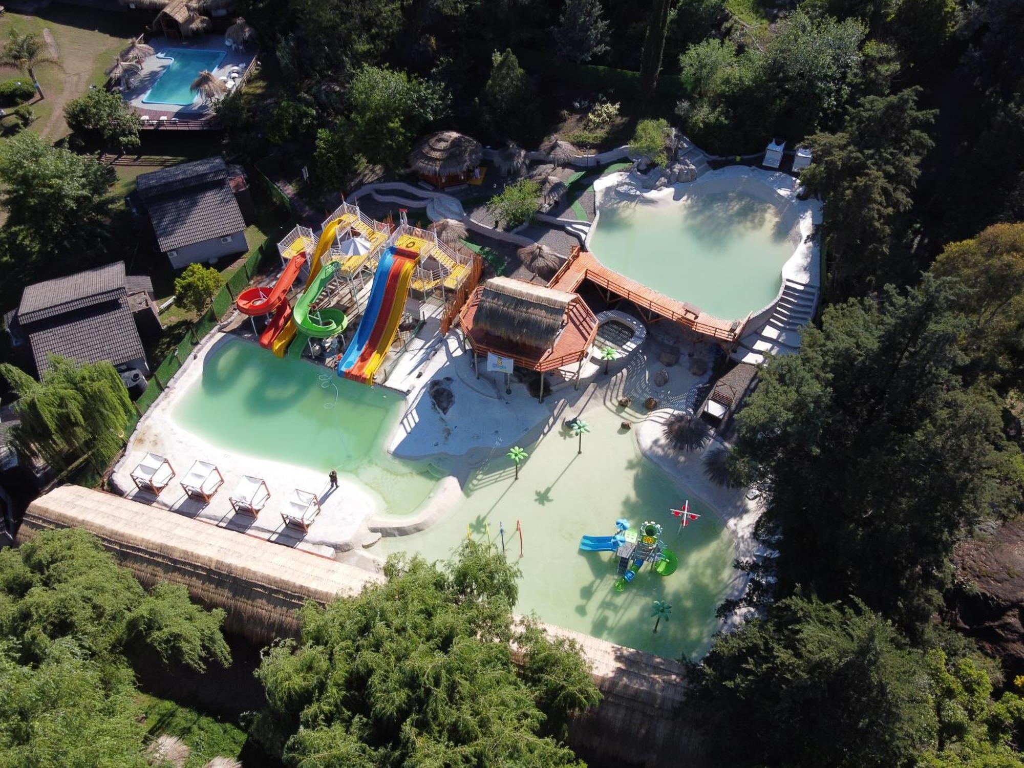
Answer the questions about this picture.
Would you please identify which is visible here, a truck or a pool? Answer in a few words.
pool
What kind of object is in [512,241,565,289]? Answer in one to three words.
umbrella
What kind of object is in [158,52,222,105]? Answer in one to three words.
swimming pool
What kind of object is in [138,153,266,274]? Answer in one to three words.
house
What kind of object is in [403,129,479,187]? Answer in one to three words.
shed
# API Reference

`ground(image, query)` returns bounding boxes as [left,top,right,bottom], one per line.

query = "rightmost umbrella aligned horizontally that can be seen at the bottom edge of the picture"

[203,739,265,768]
